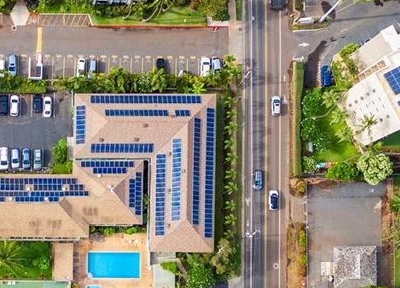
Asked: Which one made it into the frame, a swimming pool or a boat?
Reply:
swimming pool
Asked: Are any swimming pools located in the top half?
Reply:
No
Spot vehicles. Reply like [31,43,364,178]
[34,95,42,114]
[212,56,221,73]
[156,55,165,74]
[0,95,8,116]
[268,190,279,211]
[8,55,17,77]
[271,96,281,116]
[10,95,19,116]
[11,148,19,168]
[89,57,96,73]
[0,56,5,70]
[320,66,331,87]
[200,56,211,72]
[0,148,9,169]
[22,148,31,168]
[34,150,42,169]
[77,57,85,74]
[269,0,282,11]
[43,97,52,118]
[253,170,263,191]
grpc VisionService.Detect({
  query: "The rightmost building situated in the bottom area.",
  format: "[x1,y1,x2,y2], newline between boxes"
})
[329,246,377,288]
